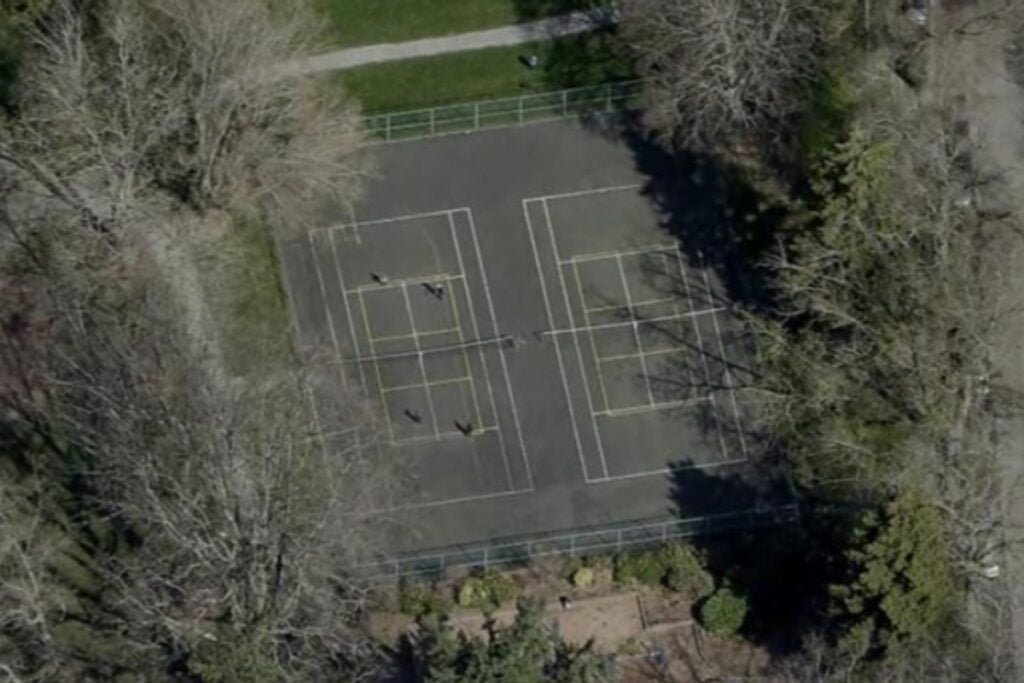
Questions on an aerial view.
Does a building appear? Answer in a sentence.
No, I find no building anywhere in the image.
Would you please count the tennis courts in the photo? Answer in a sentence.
I count 2 tennis courts.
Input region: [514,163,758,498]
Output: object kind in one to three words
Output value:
tennis court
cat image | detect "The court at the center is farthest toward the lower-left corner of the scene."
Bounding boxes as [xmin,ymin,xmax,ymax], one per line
[302,193,542,526]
